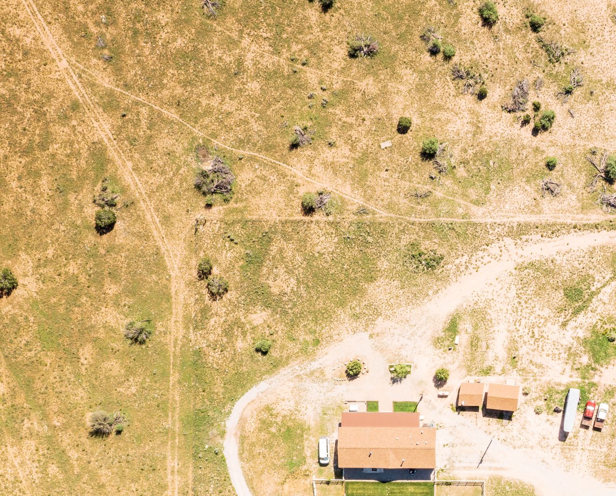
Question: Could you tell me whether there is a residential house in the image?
Yes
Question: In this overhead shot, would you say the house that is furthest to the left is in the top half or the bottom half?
bottom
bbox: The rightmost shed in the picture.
[487,383,520,411]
